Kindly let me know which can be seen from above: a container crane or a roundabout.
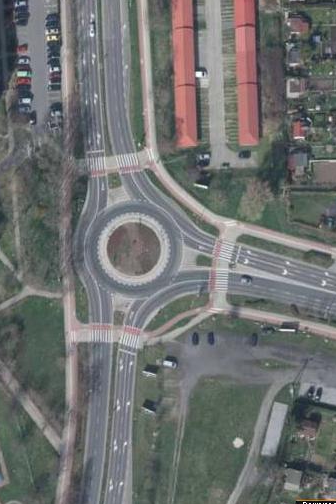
roundabout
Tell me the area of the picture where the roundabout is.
center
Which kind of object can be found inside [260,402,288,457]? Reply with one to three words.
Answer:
shed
